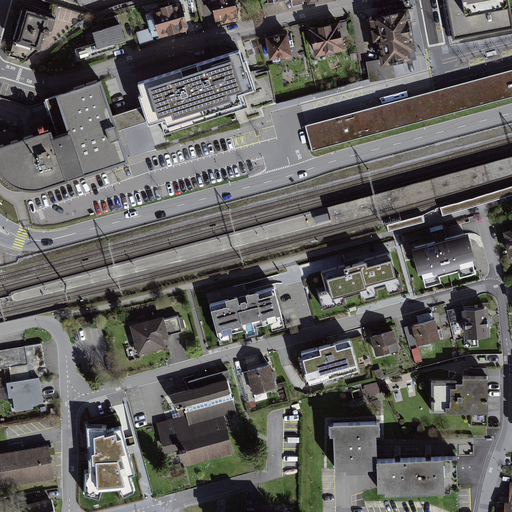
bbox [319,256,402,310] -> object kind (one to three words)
building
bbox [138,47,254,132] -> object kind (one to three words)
building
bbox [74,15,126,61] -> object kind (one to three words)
house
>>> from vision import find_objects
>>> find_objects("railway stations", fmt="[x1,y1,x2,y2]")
[10,156,512,302]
